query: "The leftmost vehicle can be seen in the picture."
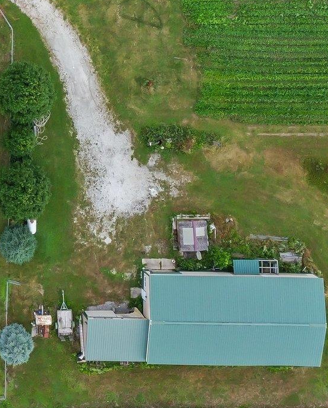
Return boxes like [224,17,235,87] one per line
[34,305,51,337]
